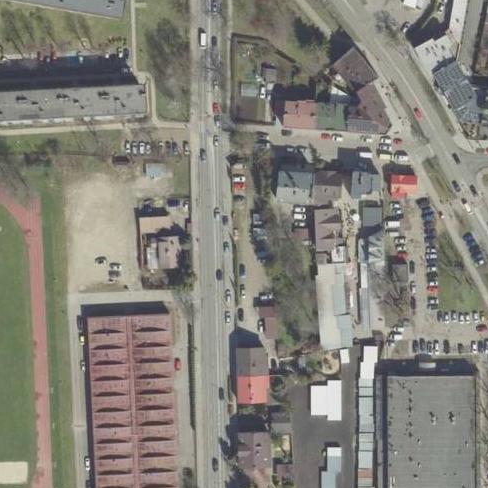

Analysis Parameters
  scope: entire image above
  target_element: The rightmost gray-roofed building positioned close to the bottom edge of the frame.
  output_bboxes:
[387,376,476,488]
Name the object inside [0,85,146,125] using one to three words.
building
